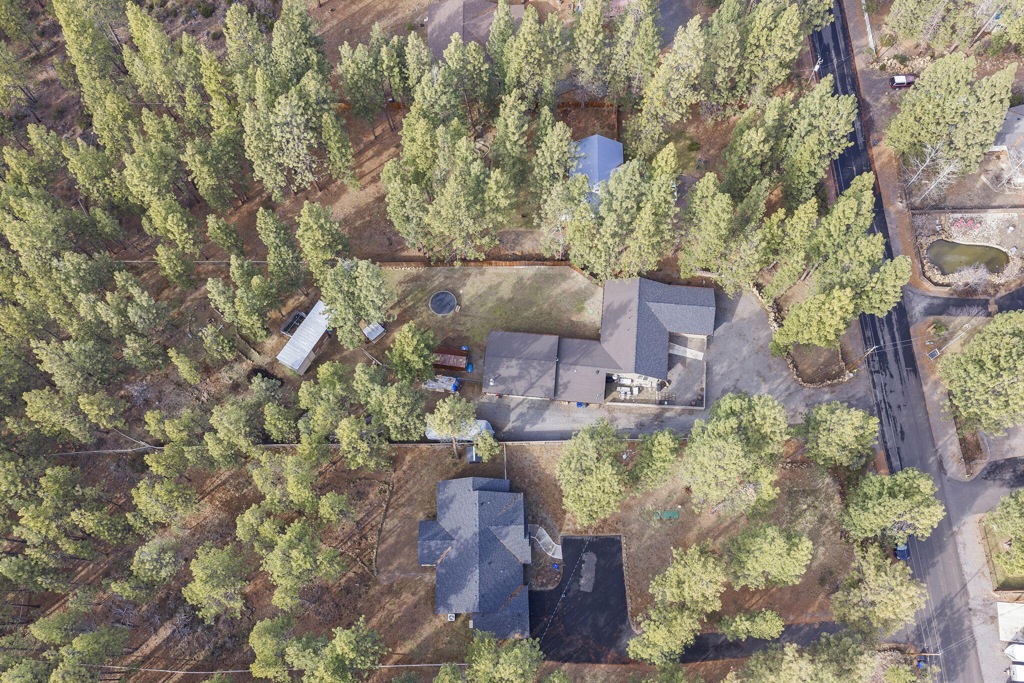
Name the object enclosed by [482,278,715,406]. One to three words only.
house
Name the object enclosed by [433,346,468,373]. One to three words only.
shed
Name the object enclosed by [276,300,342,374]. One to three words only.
shed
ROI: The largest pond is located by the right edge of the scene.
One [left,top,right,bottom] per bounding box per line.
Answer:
[929,239,1009,275]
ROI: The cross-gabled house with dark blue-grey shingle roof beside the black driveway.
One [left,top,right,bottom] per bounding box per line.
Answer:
[418,477,531,639]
